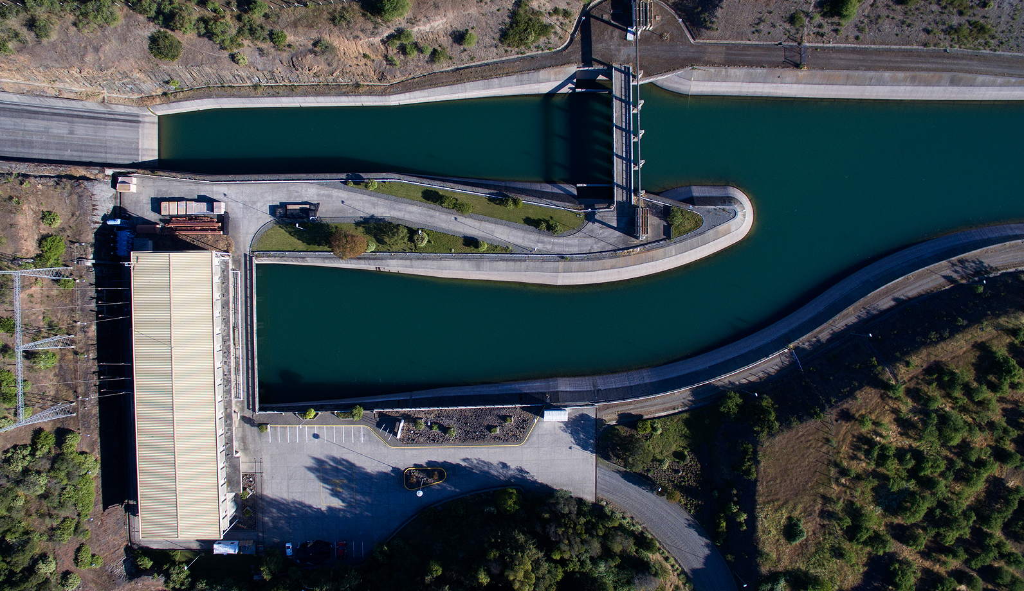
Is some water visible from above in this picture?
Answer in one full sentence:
Yes, water shows up in the scene.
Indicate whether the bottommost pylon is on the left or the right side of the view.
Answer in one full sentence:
The bottommost pylon is on the left side of the image.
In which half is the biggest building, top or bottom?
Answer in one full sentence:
The biggest building sits in the bottom half of the picture.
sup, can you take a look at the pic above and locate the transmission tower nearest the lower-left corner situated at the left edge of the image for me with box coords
[0,401,82,429]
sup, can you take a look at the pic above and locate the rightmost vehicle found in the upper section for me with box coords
[273,202,318,220]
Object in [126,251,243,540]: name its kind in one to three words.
building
